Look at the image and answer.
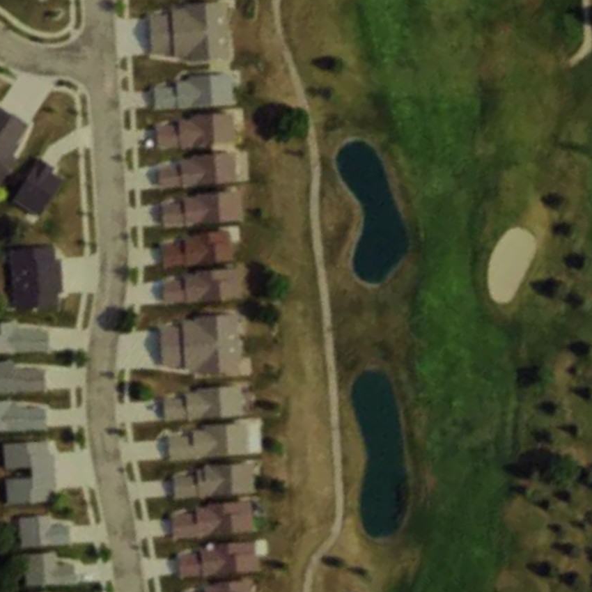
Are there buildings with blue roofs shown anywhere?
No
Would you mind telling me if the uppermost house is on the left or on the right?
left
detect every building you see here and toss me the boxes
[155,109,246,152]
[0,400,46,433]
[151,0,237,71]
[24,555,77,588]
[12,160,61,217]
[3,441,54,504]
[17,517,69,548]
[157,151,250,190]
[0,324,48,355]
[7,244,63,309]
[168,419,262,461]
[161,226,240,271]
[178,539,269,581]
[172,461,261,502]
[160,311,252,377]
[163,386,255,423]
[153,71,242,112]
[162,270,247,307]
[172,503,254,541]
[162,193,244,230]
[0,110,28,192]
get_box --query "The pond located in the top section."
[336,141,408,284]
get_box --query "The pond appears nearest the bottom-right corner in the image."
[354,370,408,536]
